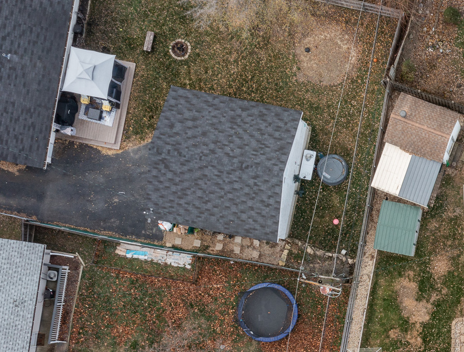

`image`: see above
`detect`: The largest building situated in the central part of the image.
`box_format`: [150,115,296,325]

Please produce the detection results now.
[147,87,312,242]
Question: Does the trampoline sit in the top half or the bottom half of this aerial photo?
bottom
